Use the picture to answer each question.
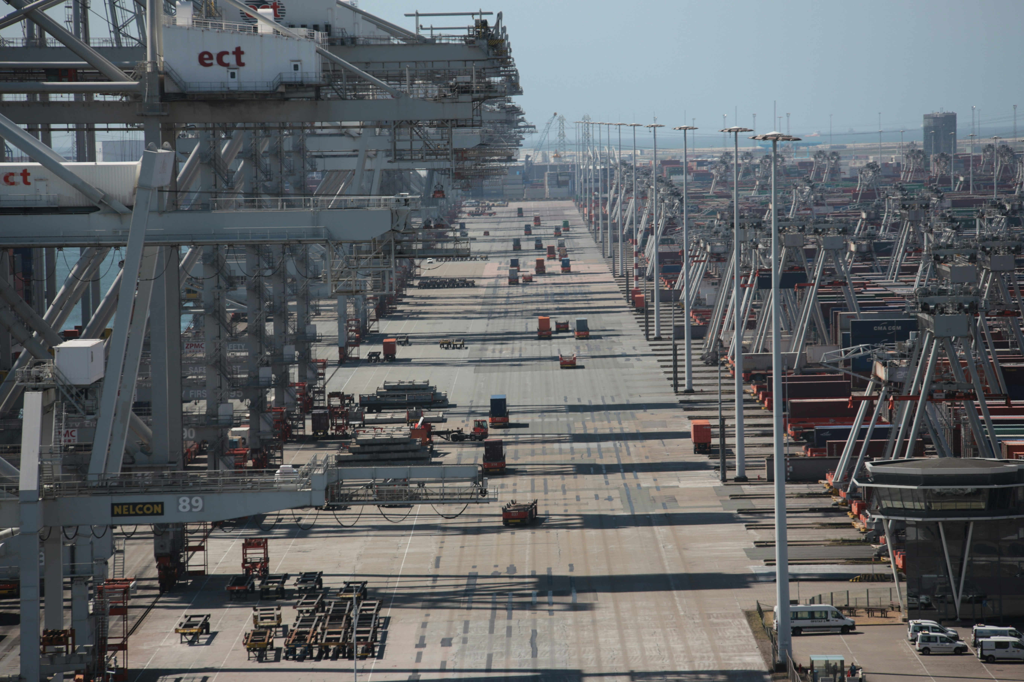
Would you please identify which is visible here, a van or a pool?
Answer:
van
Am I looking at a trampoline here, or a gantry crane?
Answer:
gantry crane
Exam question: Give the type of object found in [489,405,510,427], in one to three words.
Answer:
vehicle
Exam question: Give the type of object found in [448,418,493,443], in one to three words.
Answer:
work vehicle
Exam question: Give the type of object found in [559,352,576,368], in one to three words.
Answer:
vehicle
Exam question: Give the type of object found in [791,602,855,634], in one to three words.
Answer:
van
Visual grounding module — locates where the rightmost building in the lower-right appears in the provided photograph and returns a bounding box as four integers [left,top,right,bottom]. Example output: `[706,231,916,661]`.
[859,455,1024,621]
